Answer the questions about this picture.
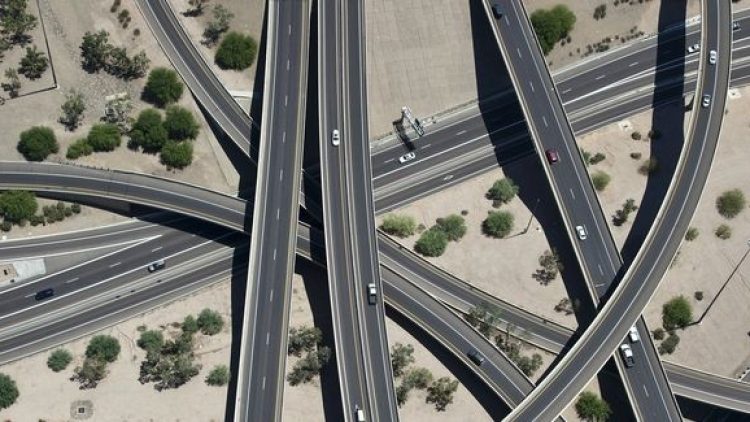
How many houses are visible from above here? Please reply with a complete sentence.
The count of houses is 0.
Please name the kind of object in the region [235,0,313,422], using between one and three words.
overpass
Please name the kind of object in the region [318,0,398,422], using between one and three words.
overpass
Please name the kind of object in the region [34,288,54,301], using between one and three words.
vehicle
